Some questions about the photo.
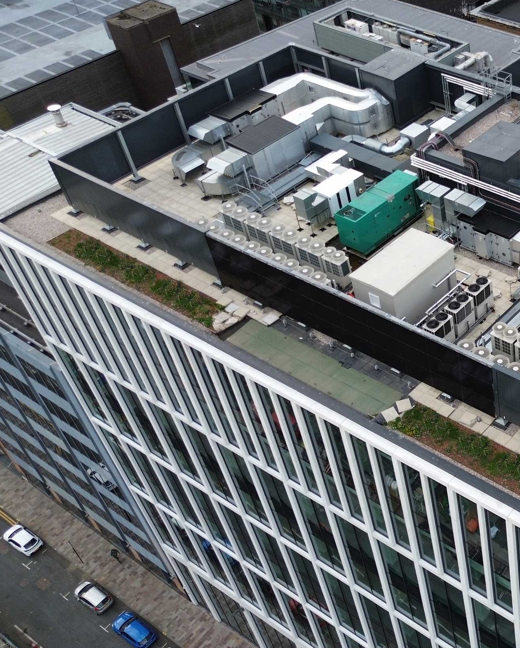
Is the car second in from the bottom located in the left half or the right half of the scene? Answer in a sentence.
You can find the car second in from the bottom on the left side of the picture.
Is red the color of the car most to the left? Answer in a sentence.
No, from above the car most to the left looks white.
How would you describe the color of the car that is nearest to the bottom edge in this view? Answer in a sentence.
In this view, the car that is nearest to the bottom edge is blue.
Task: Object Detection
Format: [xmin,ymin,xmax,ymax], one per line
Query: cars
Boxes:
[69,577,114,615]
[108,607,157,648]
[1,521,44,557]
